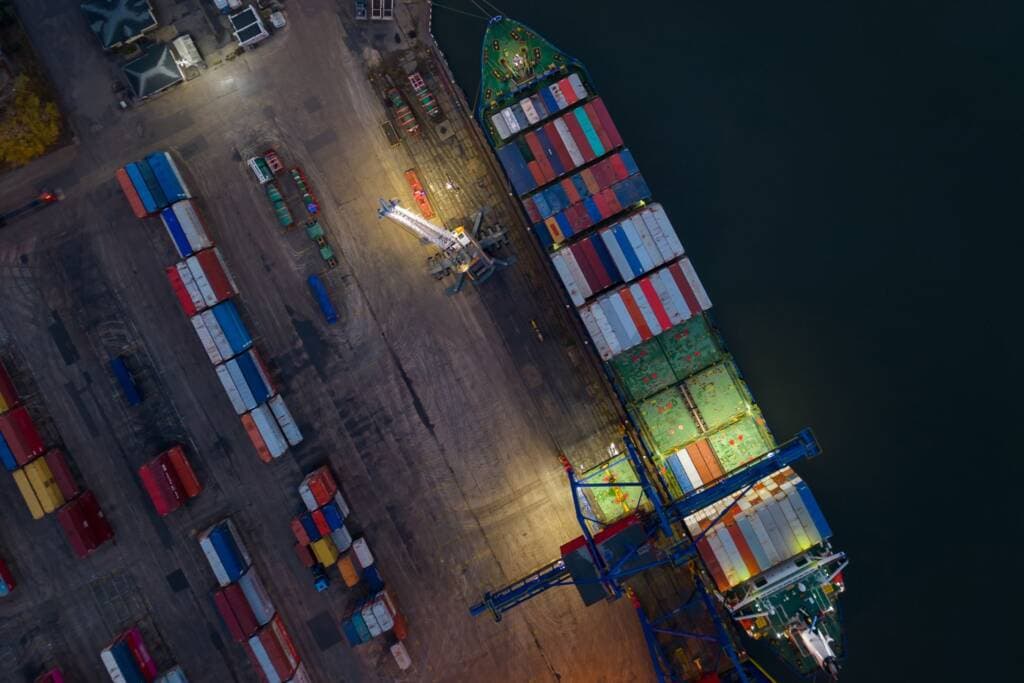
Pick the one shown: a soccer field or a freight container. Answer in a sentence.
Of the two, only a freight container appears.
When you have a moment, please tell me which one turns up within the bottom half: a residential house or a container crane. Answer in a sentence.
You can see a container crane within the bottom half.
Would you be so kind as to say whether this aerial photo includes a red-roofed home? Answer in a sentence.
No, there is no red-roofed home in the image.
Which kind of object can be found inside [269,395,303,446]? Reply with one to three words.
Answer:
shipping container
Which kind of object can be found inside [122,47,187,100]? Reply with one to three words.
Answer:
house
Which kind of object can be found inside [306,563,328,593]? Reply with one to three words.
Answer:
truck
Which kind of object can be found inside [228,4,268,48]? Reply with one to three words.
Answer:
shed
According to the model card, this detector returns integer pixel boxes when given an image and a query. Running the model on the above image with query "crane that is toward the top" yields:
[375,197,518,297]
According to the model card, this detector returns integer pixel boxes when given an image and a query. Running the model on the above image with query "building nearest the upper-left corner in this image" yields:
[80,0,166,49]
